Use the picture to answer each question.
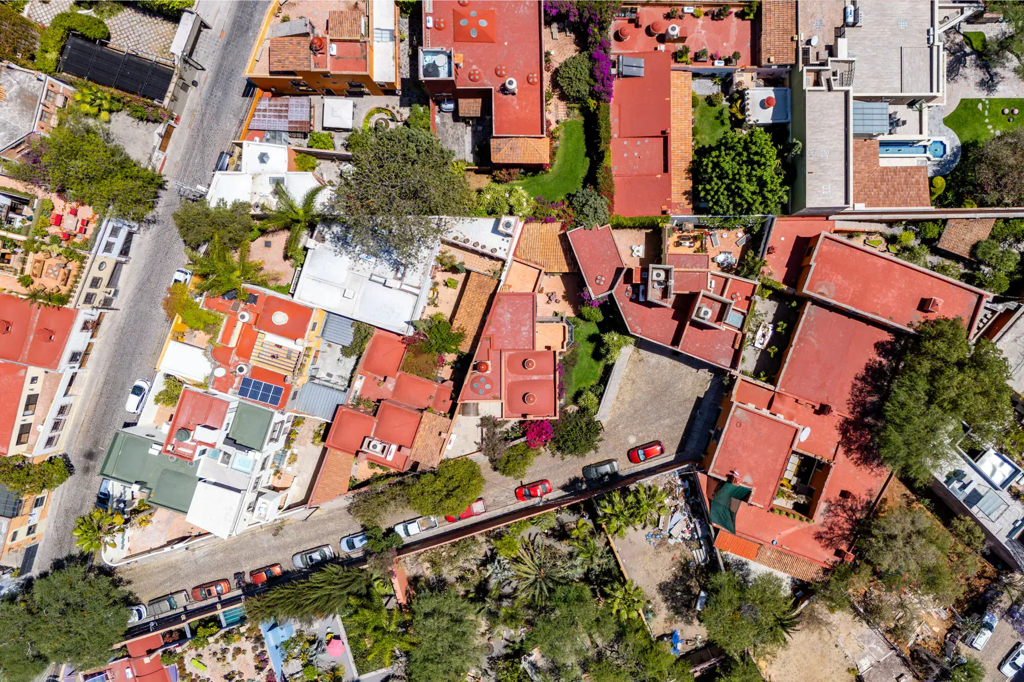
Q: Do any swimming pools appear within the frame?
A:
Yes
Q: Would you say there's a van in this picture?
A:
Yes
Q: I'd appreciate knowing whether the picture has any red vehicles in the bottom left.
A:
Yes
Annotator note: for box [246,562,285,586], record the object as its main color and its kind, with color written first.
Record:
red car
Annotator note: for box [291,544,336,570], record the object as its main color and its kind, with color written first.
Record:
gray car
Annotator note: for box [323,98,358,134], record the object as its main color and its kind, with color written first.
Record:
white gazebo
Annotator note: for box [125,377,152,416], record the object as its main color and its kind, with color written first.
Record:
white car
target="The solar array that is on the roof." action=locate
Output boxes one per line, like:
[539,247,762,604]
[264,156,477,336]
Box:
[238,376,284,406]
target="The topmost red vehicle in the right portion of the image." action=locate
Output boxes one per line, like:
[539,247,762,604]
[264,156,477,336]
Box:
[626,440,667,464]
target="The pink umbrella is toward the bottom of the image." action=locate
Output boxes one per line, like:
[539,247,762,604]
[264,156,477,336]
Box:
[325,637,346,658]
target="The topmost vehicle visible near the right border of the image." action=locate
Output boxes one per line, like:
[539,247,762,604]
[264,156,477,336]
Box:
[962,610,1001,655]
